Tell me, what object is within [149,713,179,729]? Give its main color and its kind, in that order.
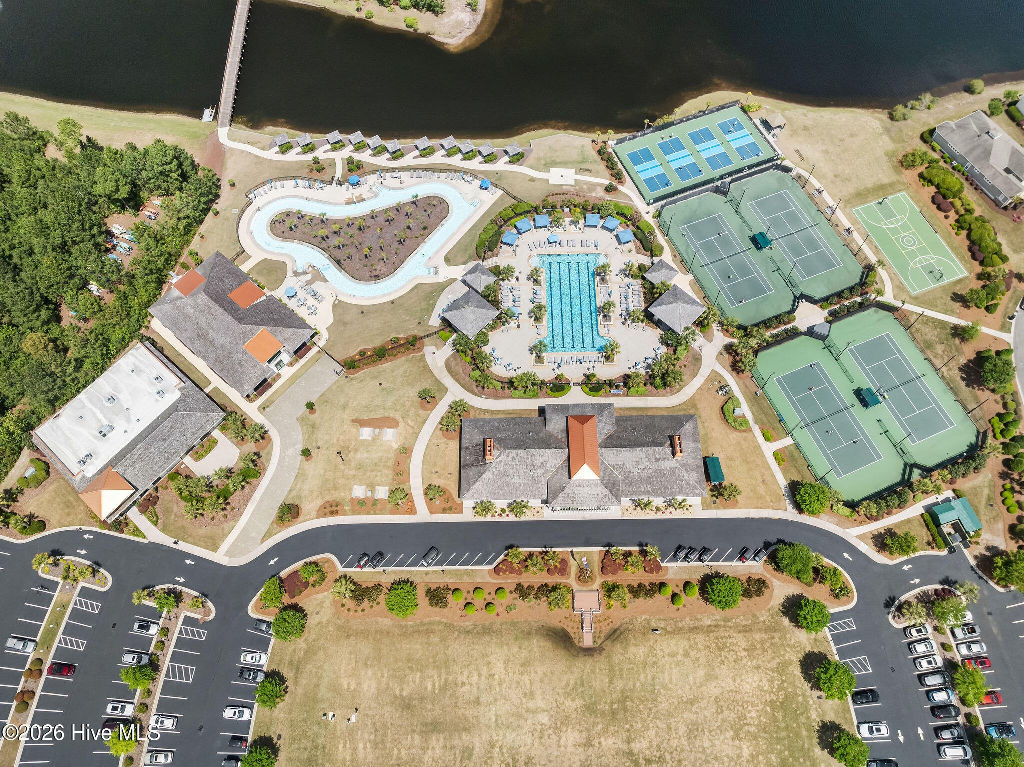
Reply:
white car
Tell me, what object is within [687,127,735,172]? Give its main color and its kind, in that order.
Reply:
blue sports court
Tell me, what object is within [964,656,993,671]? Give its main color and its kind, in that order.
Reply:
red car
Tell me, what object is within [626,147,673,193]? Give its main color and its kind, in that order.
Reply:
blue sports court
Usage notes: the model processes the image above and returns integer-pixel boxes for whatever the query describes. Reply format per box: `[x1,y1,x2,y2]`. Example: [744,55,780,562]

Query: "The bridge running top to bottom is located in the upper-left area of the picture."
[216,0,253,130]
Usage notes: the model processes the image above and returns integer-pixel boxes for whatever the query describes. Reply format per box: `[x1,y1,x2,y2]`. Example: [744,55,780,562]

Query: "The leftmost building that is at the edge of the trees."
[30,340,226,523]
